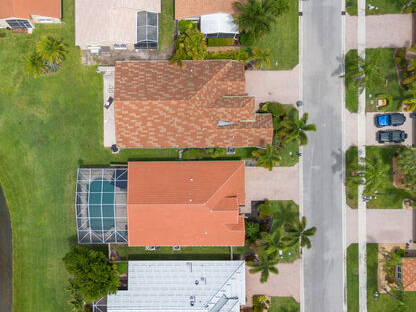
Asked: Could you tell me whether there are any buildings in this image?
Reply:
Yes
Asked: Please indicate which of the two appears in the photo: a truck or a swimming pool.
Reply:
swimming pool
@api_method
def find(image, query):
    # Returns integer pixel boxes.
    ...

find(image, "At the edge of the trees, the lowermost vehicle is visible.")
[375,129,408,143]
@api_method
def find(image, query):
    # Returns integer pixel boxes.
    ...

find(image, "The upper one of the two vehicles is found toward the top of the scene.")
[375,112,404,126]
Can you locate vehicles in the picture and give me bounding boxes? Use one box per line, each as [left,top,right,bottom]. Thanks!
[375,129,408,143]
[375,112,404,126]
